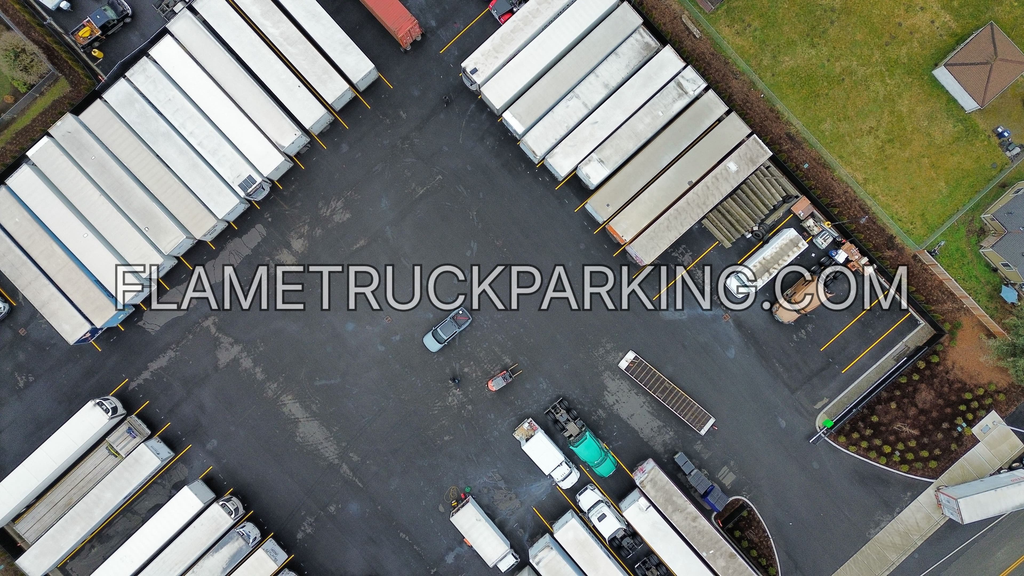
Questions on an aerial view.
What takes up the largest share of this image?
paved ground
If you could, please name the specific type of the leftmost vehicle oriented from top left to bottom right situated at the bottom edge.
truck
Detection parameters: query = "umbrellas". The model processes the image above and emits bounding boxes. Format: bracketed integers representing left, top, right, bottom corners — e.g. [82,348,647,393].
[993,284,1016,305]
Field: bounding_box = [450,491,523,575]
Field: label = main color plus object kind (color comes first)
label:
white truck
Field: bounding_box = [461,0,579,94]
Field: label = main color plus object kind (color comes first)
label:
white trailer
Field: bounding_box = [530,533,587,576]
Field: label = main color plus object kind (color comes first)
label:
white trailer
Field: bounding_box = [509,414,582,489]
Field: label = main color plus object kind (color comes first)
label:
white truck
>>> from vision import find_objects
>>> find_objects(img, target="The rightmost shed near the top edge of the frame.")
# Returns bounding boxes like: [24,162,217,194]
[933,21,1024,110]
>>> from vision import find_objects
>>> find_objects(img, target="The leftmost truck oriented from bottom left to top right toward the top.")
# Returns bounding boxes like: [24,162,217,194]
[69,1,136,51]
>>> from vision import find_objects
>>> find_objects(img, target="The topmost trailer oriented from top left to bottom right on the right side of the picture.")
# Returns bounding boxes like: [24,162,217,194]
[617,349,716,436]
